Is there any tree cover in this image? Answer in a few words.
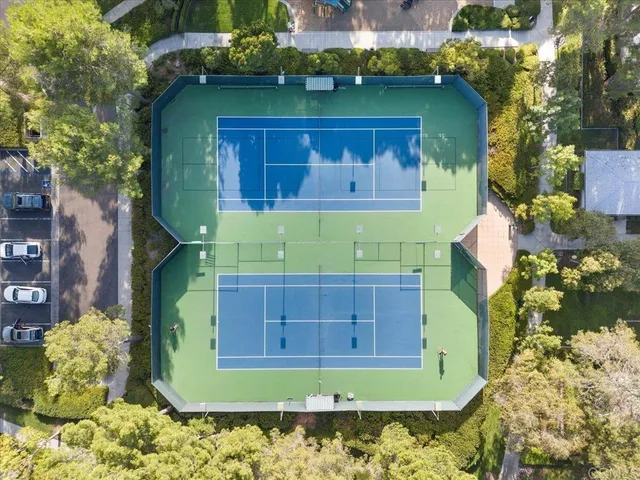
Yes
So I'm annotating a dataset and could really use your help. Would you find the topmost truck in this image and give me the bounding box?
[4,189,51,211]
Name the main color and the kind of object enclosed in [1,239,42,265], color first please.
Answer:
white car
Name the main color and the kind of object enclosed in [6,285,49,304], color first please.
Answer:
white car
